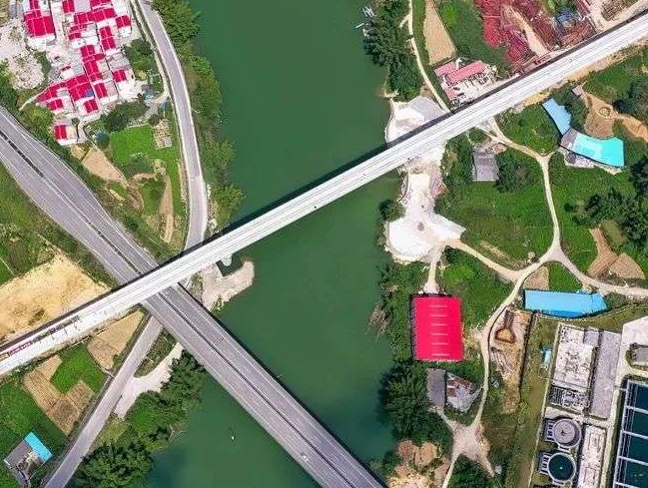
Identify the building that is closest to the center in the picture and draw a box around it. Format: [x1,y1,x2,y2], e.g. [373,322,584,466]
[409,293,463,360]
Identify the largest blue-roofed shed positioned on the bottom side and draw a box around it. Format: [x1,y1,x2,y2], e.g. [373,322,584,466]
[521,288,595,316]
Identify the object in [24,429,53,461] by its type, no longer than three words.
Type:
house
